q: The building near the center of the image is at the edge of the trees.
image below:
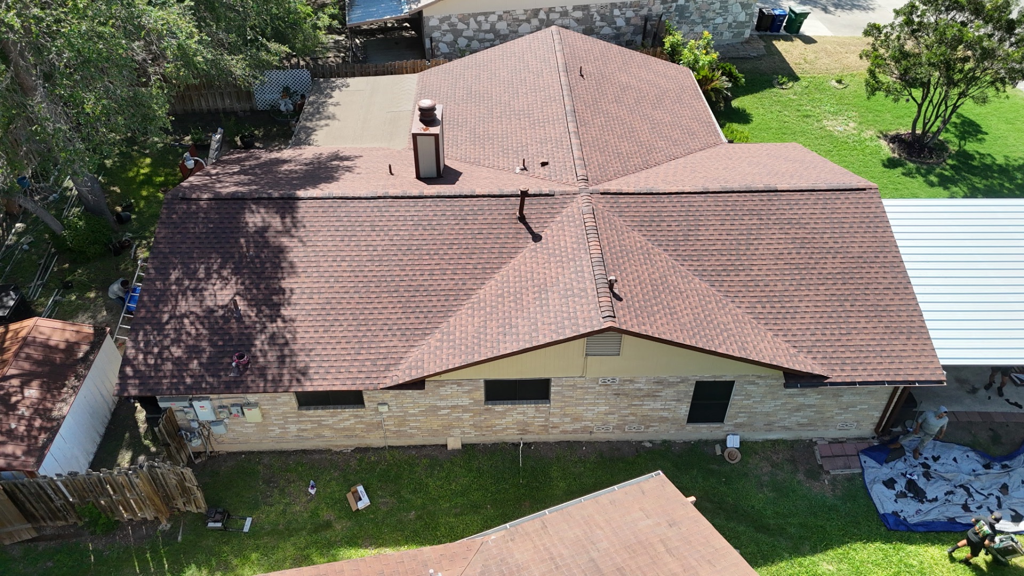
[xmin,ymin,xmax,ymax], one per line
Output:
[118,26,952,452]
